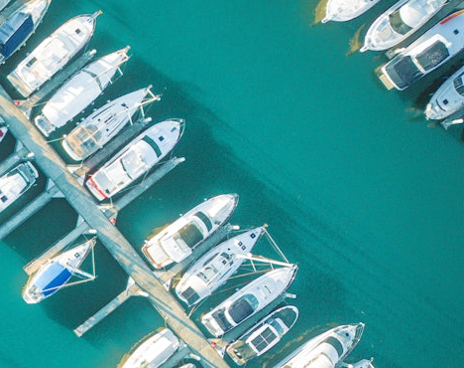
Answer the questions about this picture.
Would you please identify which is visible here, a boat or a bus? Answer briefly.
boat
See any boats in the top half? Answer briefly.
Yes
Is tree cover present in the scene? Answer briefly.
No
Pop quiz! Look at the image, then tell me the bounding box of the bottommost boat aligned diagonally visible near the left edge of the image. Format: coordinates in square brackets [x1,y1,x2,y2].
[20,238,97,305]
